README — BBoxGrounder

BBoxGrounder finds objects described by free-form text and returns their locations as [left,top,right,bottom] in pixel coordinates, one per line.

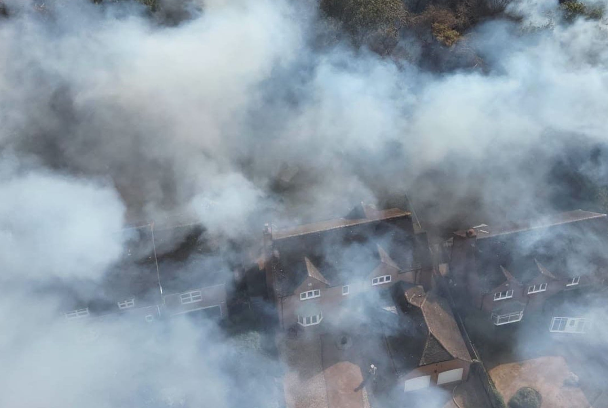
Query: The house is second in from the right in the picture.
[259,180,475,393]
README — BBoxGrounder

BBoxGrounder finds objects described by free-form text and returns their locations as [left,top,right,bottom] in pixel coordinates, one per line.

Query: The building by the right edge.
[448,208,608,361]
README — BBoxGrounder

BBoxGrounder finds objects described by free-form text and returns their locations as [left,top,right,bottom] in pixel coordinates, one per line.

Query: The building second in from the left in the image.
[149,204,253,332]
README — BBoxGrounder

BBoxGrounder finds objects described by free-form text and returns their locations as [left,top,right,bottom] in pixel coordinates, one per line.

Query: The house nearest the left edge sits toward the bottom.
[38,202,168,351]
